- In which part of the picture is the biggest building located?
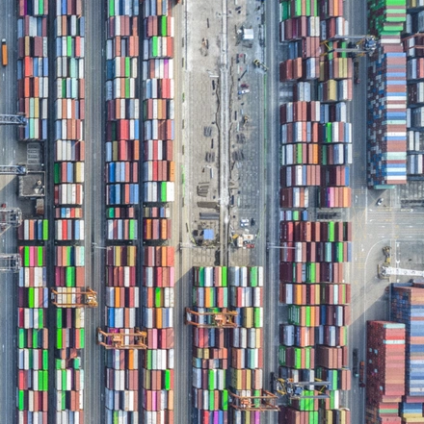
left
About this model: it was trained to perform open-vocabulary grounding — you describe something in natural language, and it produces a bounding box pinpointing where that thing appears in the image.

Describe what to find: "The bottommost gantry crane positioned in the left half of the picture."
[94,326,148,350]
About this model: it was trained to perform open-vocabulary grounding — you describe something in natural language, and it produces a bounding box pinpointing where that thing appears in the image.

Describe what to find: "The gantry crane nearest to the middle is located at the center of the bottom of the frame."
[181,306,239,329]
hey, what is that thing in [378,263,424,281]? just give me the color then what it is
white crane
